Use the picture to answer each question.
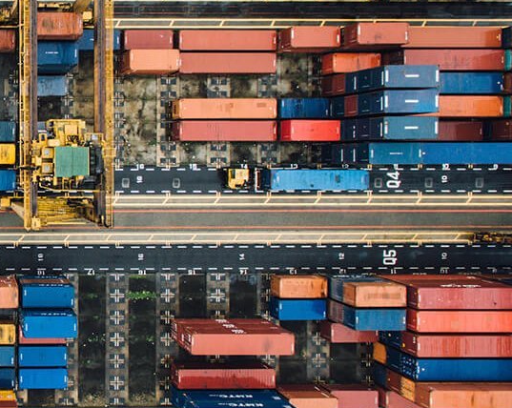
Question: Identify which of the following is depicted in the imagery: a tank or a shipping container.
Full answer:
The one in the frame is a shipping container.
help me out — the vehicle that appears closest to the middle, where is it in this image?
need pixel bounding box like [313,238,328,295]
[222,167,261,192]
